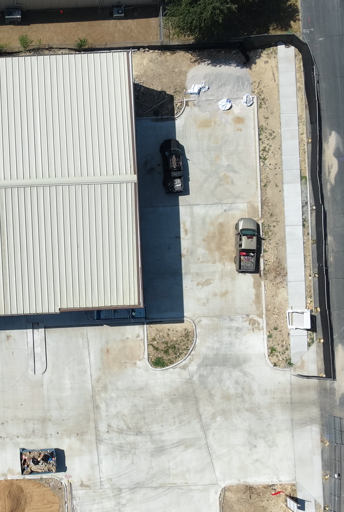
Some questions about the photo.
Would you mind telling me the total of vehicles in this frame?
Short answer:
two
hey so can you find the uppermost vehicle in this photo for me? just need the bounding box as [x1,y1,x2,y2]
[159,139,184,196]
